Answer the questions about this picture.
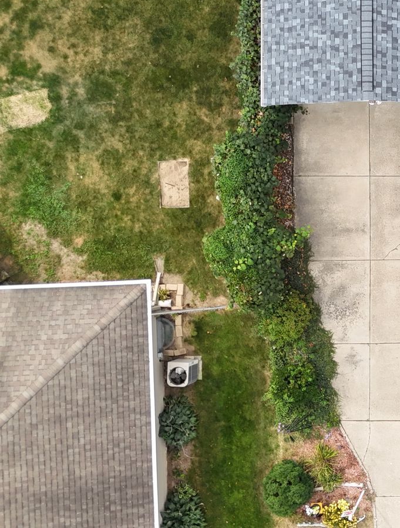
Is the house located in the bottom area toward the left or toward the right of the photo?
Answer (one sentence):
The house located in the bottom area appears in the left half of the scene.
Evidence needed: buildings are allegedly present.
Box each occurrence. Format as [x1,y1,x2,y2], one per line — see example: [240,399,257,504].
[0,279,169,528]
[261,0,400,108]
